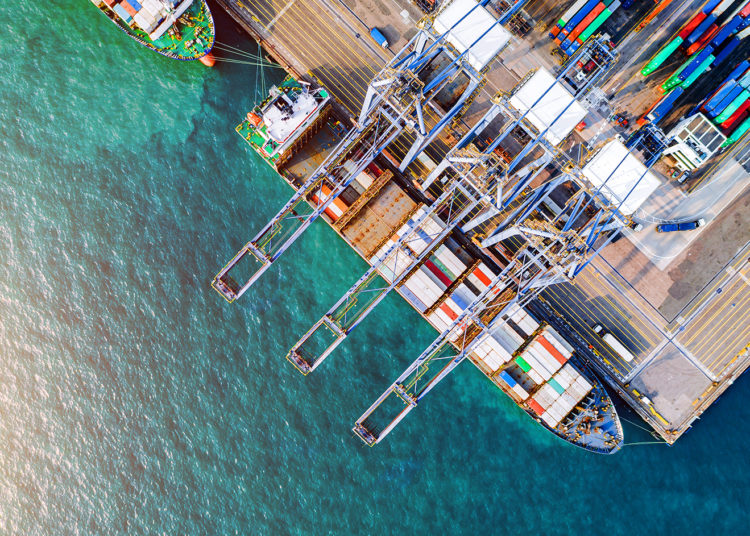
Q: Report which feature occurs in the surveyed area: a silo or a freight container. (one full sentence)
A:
Looking from above, you can make out a freight container.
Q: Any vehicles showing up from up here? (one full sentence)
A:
Yes, the image includes a vehicle.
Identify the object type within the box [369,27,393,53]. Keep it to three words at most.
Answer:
truck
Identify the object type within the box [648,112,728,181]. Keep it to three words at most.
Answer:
container crane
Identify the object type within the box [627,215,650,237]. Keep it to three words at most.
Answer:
truck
